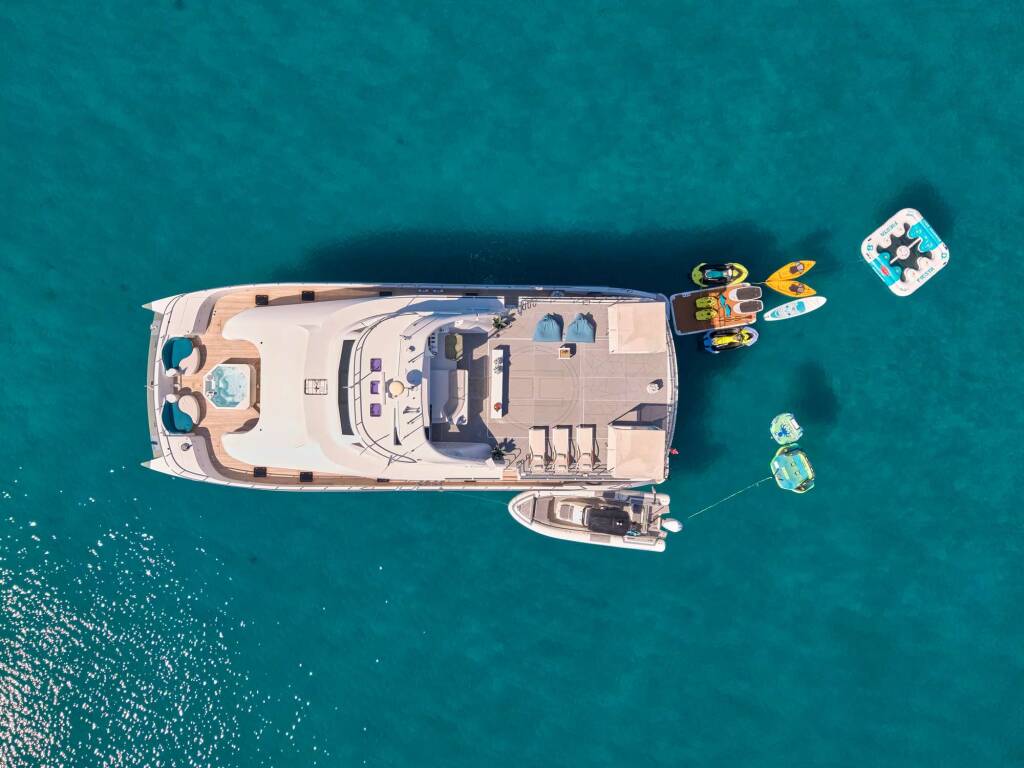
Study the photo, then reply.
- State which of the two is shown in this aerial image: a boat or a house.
boat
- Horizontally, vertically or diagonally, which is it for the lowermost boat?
horizontally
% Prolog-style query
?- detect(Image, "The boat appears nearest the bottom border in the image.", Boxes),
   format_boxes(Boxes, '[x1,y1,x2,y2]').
[508,487,682,552]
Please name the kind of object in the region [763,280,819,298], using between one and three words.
boat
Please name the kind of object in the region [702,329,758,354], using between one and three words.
boat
